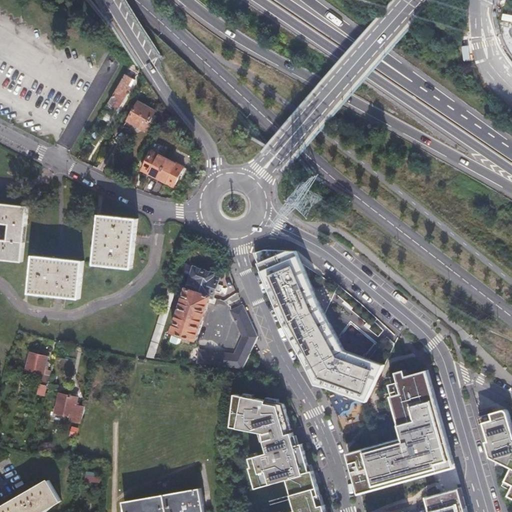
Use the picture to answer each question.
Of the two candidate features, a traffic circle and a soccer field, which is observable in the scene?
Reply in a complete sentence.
Looking from above, you can make out a traffic circle.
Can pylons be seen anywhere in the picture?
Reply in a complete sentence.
Yes, there's a pylon here.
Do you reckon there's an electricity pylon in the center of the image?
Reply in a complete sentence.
Yes, an electricity pylon appears in the center of the image.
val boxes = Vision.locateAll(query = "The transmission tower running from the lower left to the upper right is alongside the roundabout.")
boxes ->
[276,180,327,230]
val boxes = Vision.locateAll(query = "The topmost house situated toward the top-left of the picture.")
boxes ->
[108,65,140,109]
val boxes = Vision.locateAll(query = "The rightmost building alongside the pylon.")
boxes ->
[252,250,388,402]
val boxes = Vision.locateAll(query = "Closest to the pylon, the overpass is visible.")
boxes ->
[258,0,418,183]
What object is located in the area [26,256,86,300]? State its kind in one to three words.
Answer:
building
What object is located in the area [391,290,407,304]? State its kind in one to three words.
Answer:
vehicle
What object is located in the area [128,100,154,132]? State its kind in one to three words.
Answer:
house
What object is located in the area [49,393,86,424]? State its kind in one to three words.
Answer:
house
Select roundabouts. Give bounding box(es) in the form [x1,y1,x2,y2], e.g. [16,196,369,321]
[196,168,272,244]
